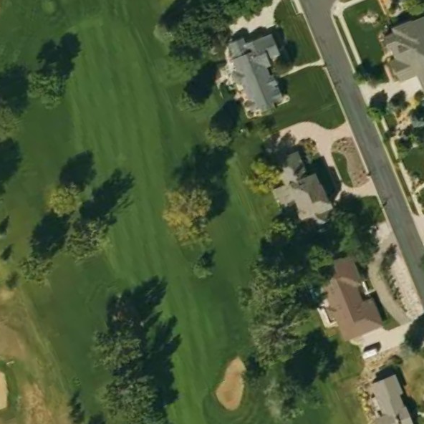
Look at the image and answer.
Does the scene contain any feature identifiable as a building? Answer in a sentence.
Yes, there is a building in the image.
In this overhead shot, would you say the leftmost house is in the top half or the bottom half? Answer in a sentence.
The leftmost house is in the top half of the image.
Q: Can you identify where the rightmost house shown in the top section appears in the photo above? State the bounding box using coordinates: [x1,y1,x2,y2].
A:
[380,18,424,86]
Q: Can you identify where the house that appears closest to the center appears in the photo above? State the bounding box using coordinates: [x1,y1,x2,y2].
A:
[268,150,337,223]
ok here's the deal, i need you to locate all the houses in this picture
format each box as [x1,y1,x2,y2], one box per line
[380,18,424,86]
[371,377,422,424]
[268,150,337,223]
[322,261,386,335]
[224,30,290,114]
